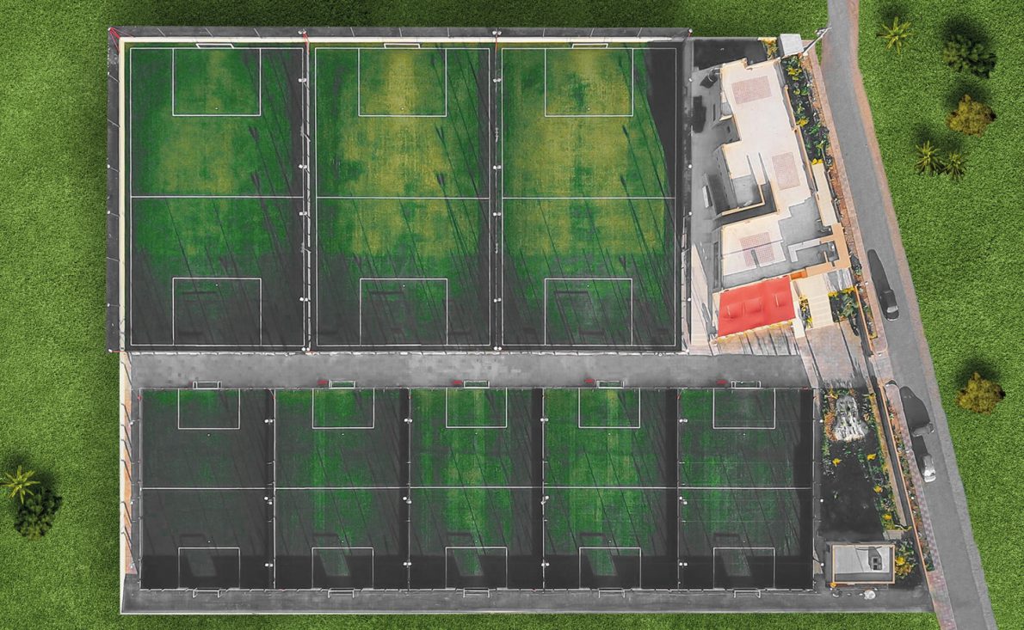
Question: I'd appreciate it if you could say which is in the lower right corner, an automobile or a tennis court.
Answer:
automobile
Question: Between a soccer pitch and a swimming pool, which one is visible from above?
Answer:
soccer pitch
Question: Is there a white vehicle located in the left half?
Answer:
No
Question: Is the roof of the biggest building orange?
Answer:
No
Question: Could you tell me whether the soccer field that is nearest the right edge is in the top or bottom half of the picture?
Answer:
bottom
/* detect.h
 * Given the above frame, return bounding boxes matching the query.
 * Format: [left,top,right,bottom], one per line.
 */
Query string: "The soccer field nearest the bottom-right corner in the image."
[679,389,815,590]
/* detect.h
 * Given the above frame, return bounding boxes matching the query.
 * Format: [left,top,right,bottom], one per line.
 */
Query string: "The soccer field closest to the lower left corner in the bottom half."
[141,389,274,590]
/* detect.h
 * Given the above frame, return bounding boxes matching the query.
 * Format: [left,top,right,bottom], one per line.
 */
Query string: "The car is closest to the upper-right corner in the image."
[879,287,900,321]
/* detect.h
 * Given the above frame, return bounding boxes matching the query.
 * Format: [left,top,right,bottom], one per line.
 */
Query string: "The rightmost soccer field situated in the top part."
[497,43,683,348]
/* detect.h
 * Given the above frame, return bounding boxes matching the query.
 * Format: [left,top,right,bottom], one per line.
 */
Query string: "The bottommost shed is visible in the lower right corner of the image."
[825,540,895,584]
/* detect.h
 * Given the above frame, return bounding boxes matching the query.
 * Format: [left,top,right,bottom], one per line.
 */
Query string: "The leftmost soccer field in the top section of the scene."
[126,43,309,348]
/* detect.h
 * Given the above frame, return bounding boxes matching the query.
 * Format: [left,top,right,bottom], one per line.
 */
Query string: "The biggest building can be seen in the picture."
[706,58,852,289]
